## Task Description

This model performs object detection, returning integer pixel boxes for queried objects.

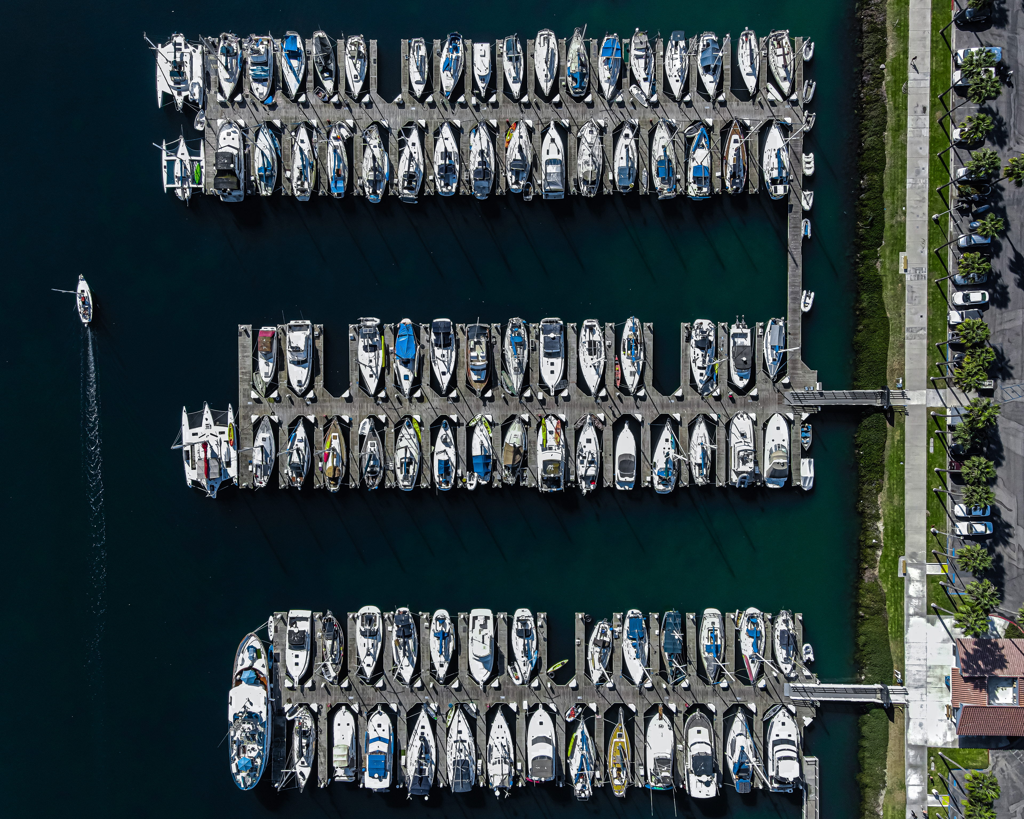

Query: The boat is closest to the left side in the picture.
[50,273,95,327]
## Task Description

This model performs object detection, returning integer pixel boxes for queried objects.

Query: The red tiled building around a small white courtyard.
[946,636,1024,736]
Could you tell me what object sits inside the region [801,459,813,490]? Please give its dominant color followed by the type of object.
white boat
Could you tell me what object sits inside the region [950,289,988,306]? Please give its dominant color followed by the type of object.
white car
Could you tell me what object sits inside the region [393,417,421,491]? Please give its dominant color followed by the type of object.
white boat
